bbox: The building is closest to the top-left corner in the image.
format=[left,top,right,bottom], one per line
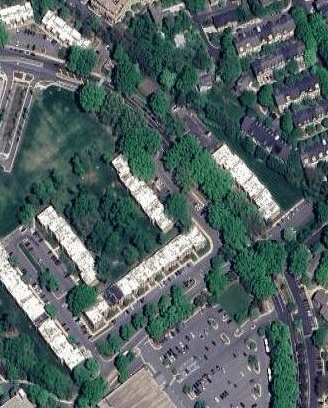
[0,2,32,29]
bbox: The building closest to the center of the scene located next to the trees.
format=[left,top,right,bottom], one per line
[114,153,176,238]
